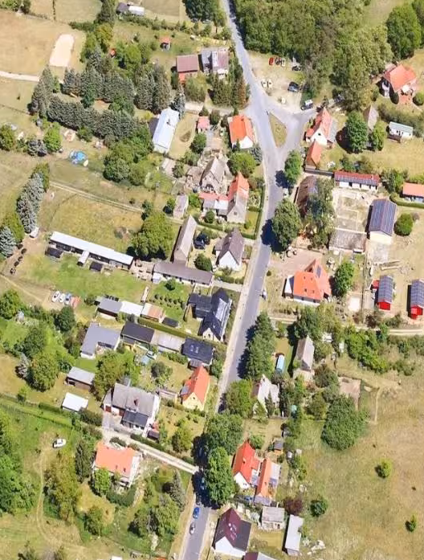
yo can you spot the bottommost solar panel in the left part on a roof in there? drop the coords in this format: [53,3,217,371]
[124,412,147,427]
